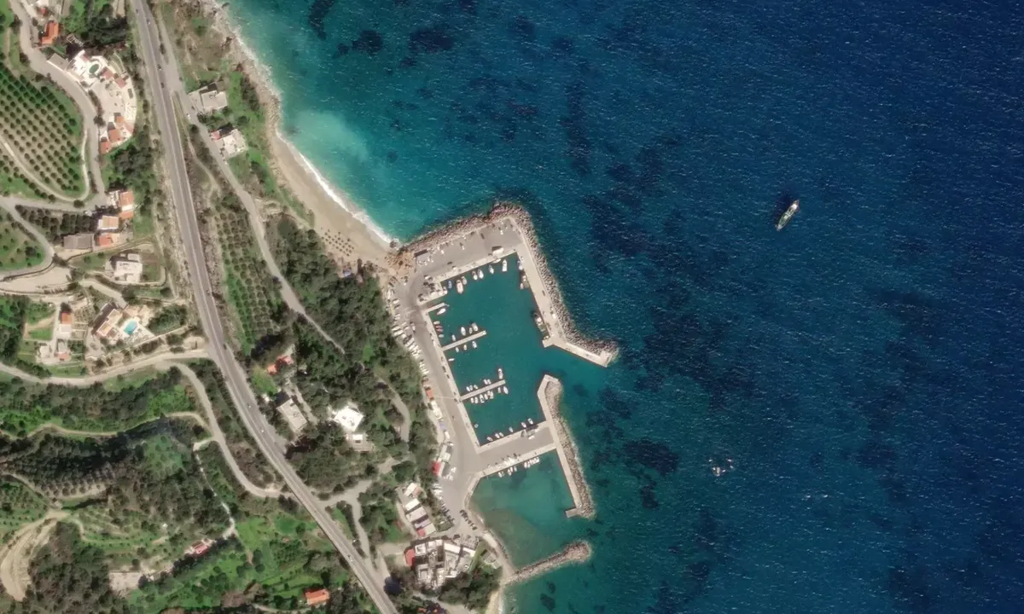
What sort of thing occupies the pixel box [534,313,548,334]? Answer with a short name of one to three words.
boat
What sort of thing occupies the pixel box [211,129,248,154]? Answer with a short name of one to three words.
building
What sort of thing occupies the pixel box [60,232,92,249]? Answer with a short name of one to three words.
shed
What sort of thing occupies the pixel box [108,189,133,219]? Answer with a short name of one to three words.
house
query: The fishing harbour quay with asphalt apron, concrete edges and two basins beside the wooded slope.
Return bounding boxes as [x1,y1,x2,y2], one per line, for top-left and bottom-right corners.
[383,200,556,535]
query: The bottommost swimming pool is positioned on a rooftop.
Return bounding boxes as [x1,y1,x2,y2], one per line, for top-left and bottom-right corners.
[121,319,137,335]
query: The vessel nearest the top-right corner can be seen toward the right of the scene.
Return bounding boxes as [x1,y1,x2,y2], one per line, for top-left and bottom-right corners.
[776,200,798,230]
